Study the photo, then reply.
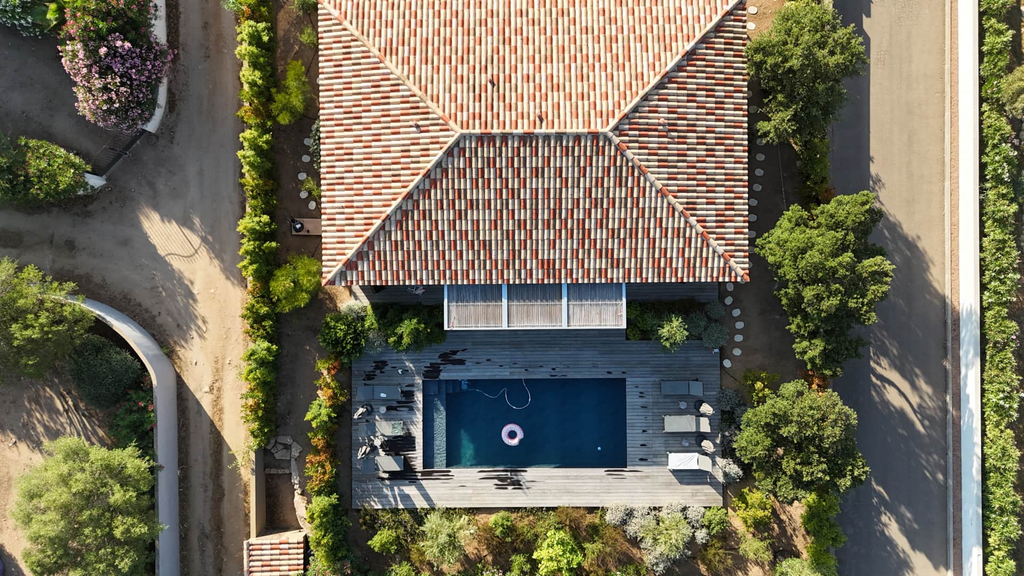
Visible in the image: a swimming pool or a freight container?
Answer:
swimming pool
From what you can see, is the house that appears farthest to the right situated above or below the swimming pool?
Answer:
above it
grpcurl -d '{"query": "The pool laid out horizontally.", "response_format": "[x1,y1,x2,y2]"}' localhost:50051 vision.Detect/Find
[423,379,626,468]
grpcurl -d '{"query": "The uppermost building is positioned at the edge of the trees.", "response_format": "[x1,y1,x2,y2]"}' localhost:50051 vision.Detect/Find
[319,0,752,285]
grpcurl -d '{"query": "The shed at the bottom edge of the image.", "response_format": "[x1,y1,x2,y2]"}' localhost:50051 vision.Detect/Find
[241,524,318,576]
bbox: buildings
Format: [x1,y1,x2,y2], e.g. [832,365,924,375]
[241,524,318,576]
[319,0,752,285]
